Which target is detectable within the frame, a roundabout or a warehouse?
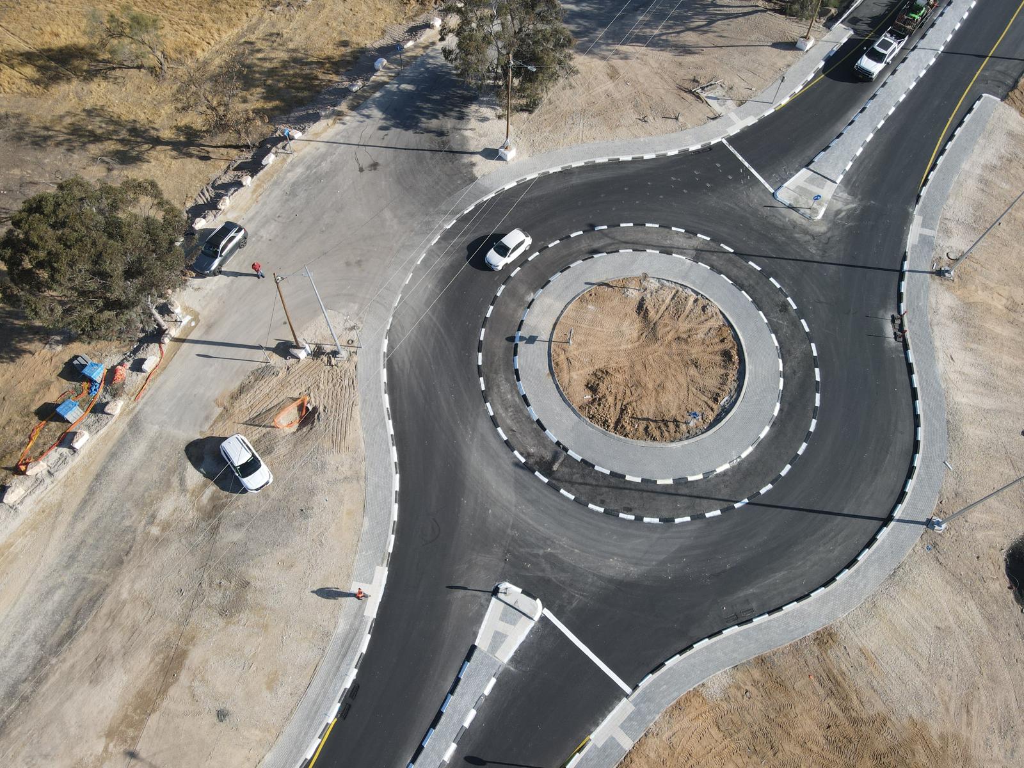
roundabout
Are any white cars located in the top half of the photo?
Yes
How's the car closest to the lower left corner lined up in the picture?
diagonally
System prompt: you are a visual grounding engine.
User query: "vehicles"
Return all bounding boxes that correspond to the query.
[900,0,935,33]
[188,220,246,278]
[854,36,904,83]
[483,225,533,270]
[218,432,277,494]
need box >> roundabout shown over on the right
[478,223,821,522]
